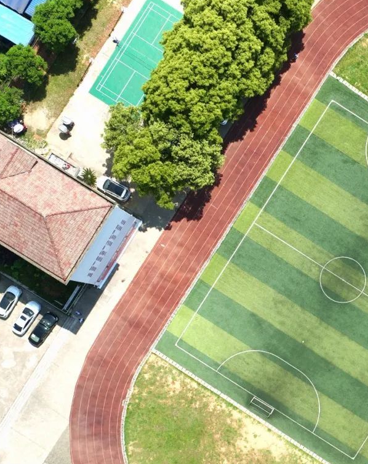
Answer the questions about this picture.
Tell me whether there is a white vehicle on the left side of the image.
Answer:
Yes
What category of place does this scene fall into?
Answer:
sports ground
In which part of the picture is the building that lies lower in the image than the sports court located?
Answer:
left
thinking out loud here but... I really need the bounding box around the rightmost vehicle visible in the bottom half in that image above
[28,310,58,346]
